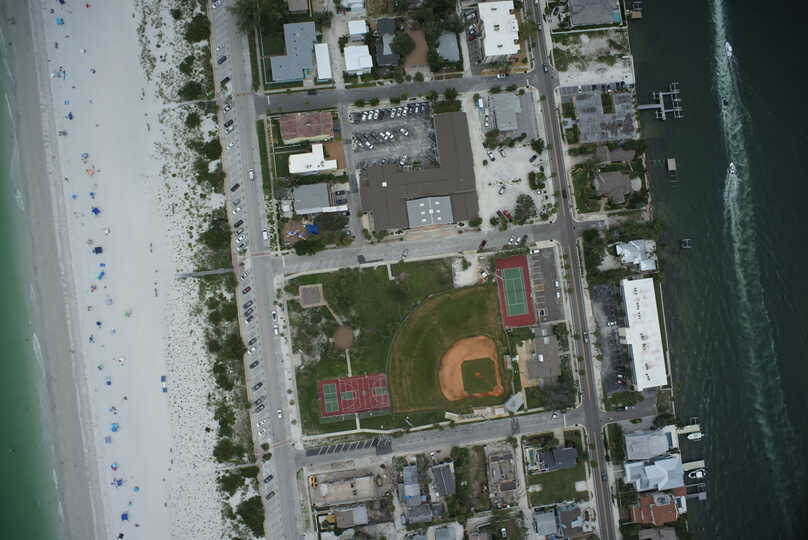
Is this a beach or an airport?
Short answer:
beach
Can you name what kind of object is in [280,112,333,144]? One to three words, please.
building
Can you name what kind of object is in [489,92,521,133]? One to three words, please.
building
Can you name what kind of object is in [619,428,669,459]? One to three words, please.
house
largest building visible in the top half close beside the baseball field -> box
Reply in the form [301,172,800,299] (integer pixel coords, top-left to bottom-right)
[360,111,481,231]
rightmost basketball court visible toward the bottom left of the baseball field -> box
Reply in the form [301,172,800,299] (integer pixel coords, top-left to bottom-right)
[339,373,390,413]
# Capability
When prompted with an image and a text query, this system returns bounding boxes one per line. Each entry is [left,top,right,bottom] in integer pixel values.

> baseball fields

[388,284,513,413]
